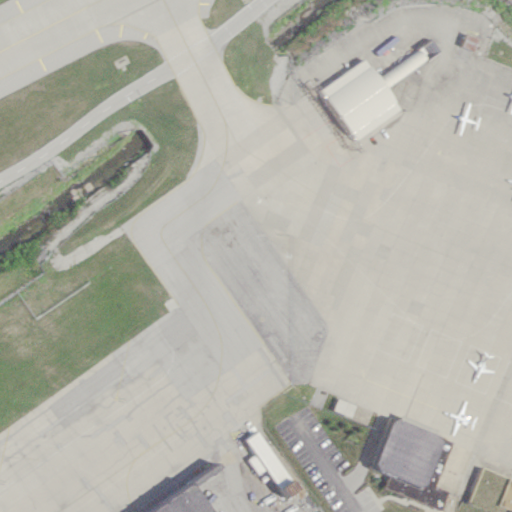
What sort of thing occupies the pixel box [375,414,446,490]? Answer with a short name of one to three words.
building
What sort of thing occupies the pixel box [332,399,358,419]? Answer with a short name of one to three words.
building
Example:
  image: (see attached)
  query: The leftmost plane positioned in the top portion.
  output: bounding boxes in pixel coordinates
[456,104,480,134]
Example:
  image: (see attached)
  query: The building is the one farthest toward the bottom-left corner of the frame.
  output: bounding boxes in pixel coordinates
[140,466,224,512]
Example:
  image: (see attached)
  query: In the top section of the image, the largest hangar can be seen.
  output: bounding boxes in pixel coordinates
[320,61,404,142]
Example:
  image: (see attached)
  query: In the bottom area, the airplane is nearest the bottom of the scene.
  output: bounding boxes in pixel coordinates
[446,401,478,436]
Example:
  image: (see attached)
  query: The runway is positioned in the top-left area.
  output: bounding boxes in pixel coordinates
[0,0,215,100]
